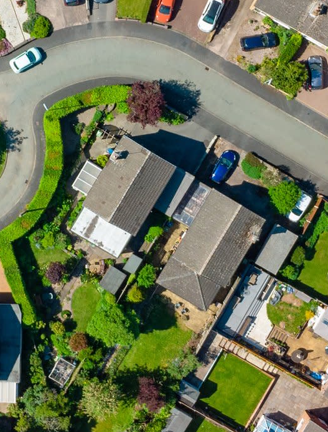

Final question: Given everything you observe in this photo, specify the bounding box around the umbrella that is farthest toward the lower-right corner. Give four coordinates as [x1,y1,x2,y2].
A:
[291,347,308,363]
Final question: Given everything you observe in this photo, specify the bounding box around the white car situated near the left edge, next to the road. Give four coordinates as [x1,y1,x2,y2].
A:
[6,46,46,74]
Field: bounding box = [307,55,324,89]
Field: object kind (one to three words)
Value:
car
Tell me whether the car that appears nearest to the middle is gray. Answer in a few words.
No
